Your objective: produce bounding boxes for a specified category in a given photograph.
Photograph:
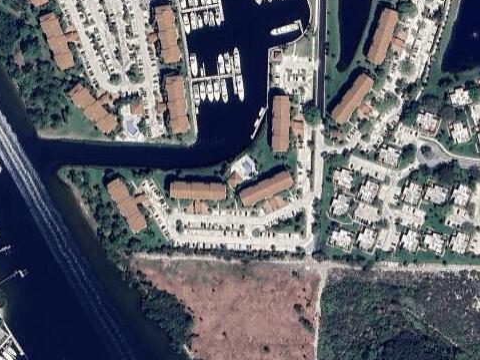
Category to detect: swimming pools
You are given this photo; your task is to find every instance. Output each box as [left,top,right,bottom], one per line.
[124,119,140,137]
[240,160,254,176]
